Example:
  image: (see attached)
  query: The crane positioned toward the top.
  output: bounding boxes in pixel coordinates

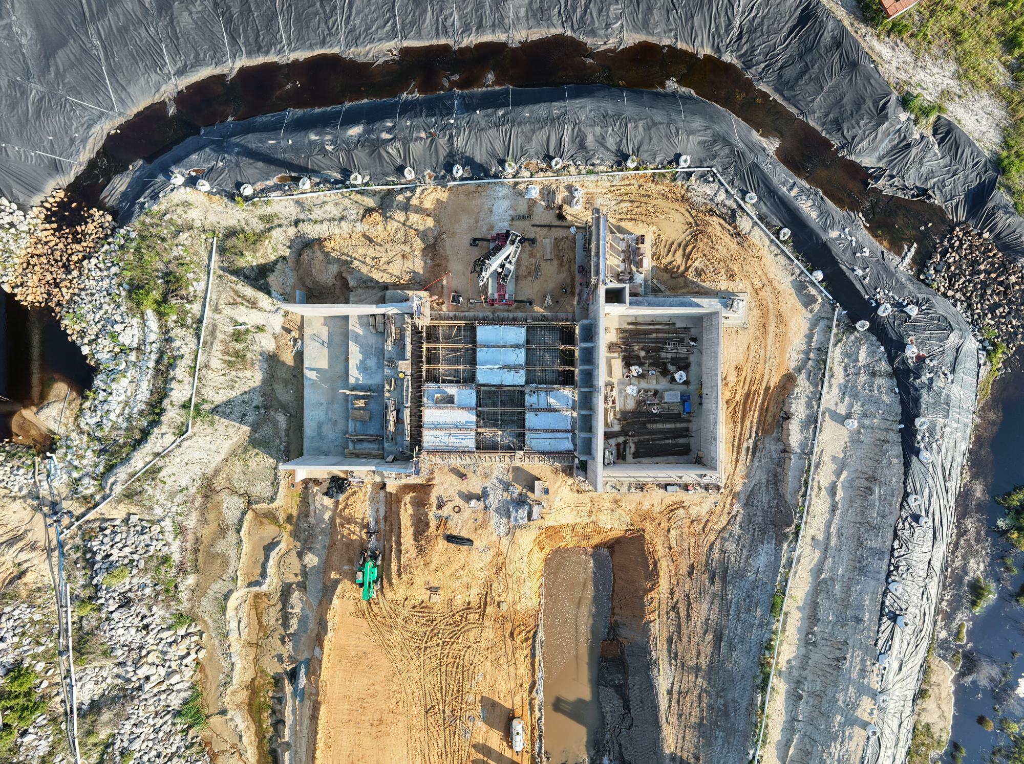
[467,220,540,308]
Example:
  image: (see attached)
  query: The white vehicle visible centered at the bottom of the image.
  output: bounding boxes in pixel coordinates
[509,717,524,758]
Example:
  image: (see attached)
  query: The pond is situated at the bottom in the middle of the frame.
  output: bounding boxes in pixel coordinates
[543,549,611,764]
